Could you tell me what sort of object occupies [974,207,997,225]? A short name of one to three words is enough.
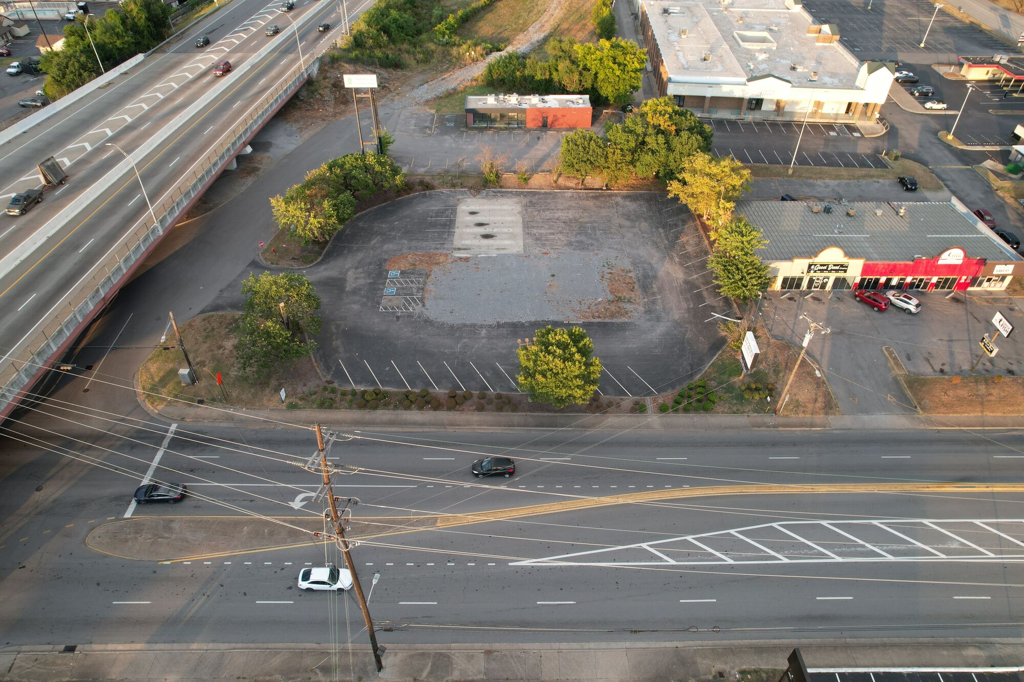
car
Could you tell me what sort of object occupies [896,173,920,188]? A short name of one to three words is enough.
car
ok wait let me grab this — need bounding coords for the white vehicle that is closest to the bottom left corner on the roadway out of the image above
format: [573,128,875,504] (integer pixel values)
[295,568,353,595]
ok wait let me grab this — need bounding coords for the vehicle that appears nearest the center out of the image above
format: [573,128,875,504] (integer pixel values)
[473,456,514,478]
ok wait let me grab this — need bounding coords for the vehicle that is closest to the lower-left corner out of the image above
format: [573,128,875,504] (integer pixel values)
[131,481,186,504]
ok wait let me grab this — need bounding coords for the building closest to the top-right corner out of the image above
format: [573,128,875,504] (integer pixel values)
[949,51,1024,94]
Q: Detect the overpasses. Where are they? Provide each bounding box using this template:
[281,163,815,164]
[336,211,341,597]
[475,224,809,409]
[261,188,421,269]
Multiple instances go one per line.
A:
[0,0,378,440]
